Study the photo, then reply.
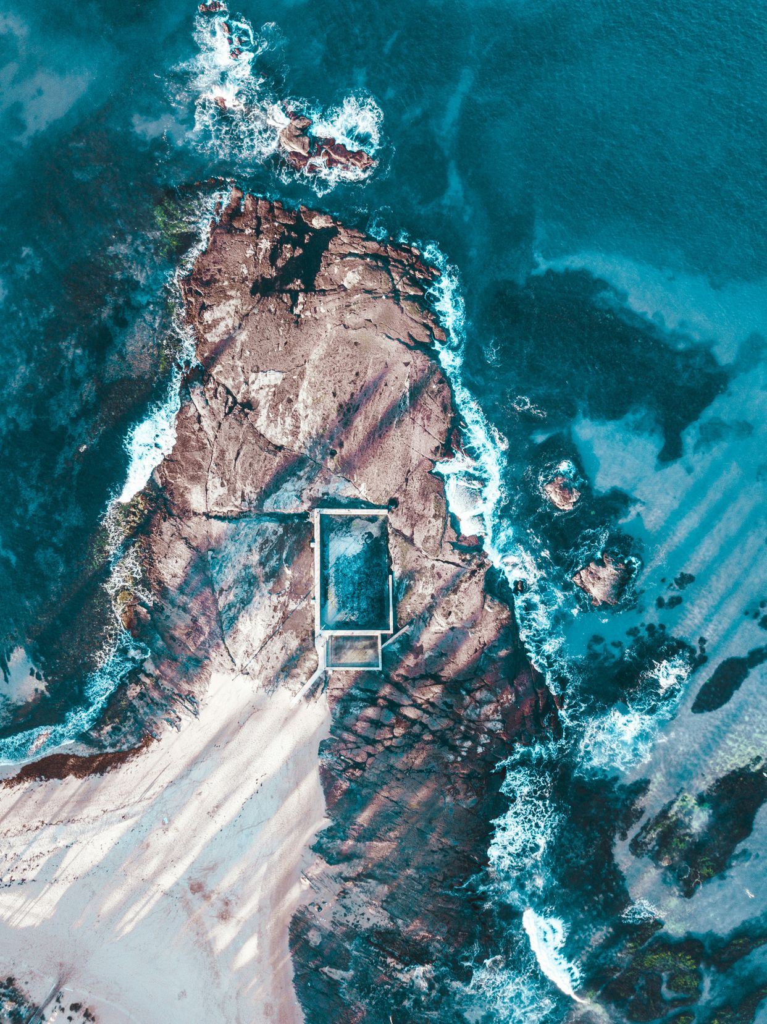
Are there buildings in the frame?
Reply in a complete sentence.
No, no building is visible in the view.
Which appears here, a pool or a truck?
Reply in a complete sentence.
The one in the frame is a pool.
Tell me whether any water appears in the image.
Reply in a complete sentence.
Yes, water can be seen from above here.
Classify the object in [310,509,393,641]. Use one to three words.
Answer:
swimming pool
